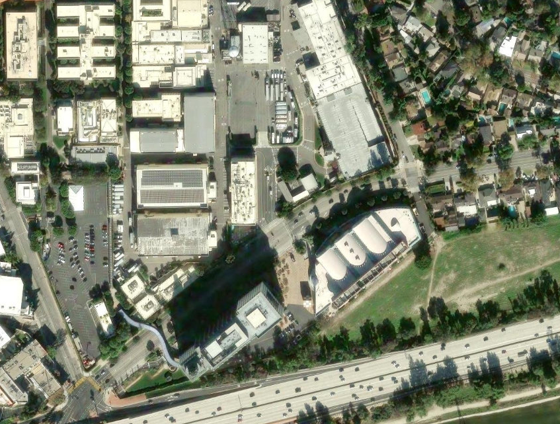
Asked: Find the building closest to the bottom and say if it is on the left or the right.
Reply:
left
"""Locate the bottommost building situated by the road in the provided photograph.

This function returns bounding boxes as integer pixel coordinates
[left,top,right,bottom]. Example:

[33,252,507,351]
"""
[0,337,62,407]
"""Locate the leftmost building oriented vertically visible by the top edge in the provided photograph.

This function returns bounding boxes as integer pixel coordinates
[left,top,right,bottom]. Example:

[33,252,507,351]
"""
[5,11,38,79]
